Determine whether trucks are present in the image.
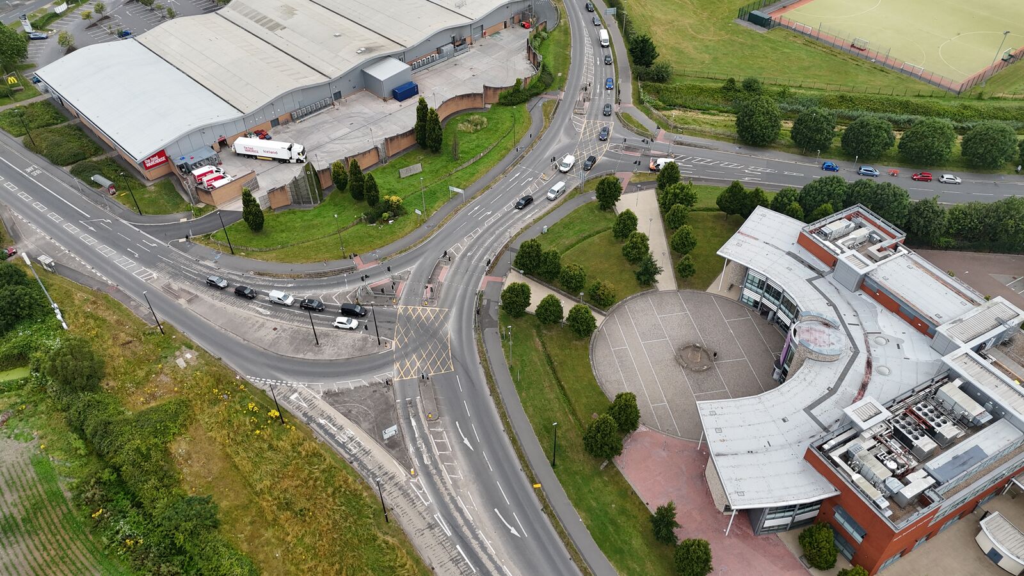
Yes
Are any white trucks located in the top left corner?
Yes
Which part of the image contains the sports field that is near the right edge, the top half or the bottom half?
top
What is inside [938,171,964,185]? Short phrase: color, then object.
gray car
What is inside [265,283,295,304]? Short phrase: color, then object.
white vehicle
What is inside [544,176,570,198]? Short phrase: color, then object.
white vehicle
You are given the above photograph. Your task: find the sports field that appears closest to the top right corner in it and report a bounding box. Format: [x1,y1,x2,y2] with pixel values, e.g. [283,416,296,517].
[783,0,1024,84]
